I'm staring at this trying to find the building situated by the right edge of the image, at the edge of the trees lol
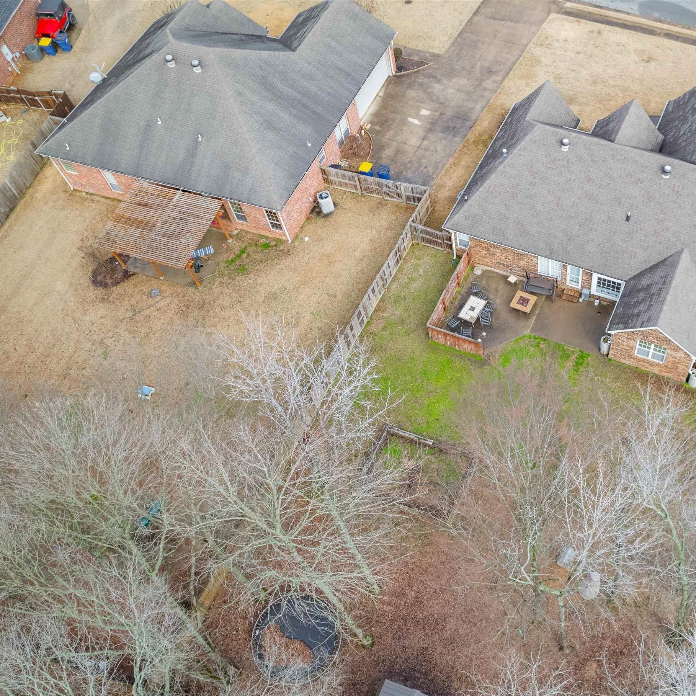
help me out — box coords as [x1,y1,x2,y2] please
[443,79,696,380]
